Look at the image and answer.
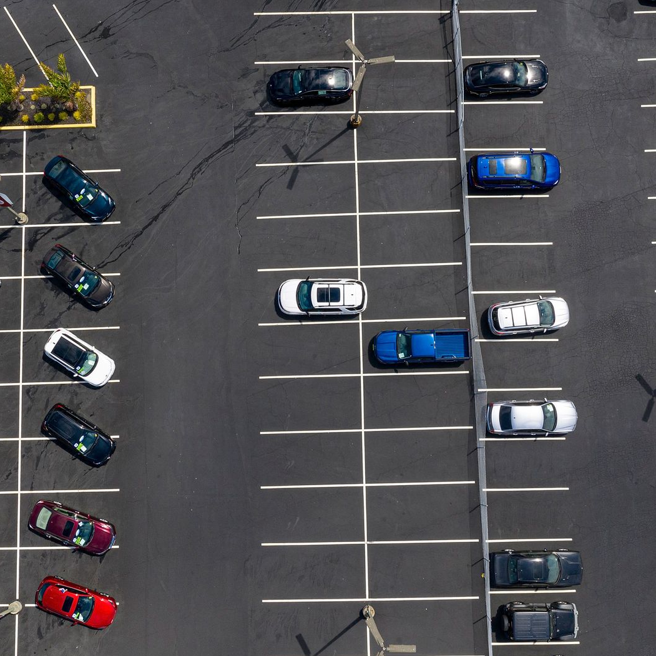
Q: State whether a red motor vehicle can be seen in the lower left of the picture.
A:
Yes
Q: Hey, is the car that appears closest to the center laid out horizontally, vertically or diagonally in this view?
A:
horizontally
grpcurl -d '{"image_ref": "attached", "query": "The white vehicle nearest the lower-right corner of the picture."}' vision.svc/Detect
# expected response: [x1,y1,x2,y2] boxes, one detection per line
[485,396,576,439]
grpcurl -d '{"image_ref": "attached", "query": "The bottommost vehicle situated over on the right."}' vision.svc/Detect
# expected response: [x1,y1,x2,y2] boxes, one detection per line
[499,600,580,644]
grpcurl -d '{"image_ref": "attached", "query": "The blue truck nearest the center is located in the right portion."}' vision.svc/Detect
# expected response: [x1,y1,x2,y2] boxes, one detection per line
[373,326,472,370]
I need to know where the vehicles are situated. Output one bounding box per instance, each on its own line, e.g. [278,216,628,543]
[464,55,547,99]
[486,294,569,336]
[28,500,116,555]
[499,600,580,644]
[41,243,113,309]
[373,326,472,370]
[43,154,115,222]
[40,403,115,467]
[268,64,353,105]
[485,396,576,439]
[35,574,117,630]
[491,548,582,591]
[467,149,560,191]
[278,276,367,318]
[44,327,113,386]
